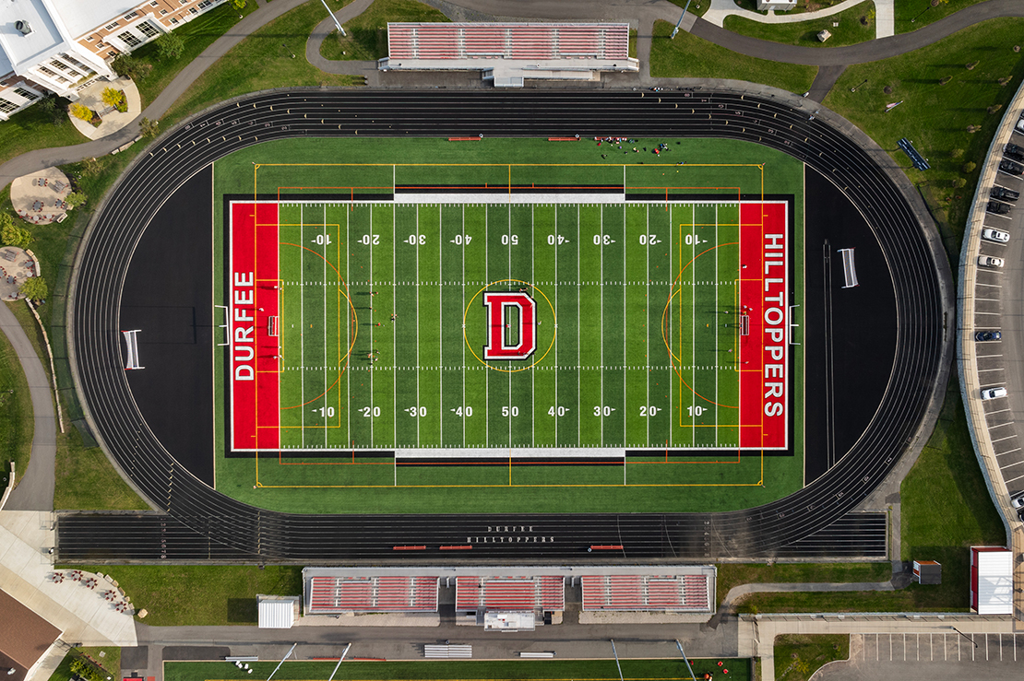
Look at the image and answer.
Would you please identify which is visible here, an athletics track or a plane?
athletics track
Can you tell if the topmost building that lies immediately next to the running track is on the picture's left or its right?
left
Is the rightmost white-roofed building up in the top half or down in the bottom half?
bottom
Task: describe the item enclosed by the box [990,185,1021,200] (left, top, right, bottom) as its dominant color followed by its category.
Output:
black vehicle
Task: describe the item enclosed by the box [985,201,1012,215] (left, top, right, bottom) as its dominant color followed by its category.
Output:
black car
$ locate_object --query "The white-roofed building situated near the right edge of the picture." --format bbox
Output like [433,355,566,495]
[972,540,1012,614]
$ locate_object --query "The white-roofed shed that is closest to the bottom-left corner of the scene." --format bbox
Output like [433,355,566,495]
[259,599,294,628]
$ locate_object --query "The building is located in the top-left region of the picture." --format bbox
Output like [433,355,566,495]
[0,0,222,118]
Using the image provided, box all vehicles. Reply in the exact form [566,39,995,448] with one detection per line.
[1010,496,1024,510]
[976,330,1001,342]
[998,158,1024,174]
[1002,142,1024,159]
[985,201,1012,215]
[1016,119,1024,131]
[983,229,1010,242]
[978,255,1004,267]
[990,185,1021,200]
[981,387,1007,400]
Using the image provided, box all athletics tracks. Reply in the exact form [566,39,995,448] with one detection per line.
[58,91,944,560]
